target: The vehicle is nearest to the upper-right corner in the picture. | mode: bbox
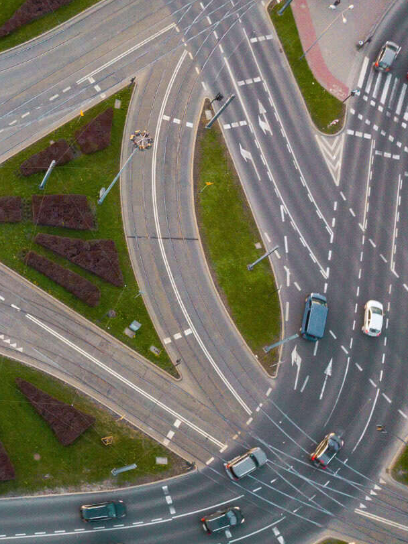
[374,40,400,73]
